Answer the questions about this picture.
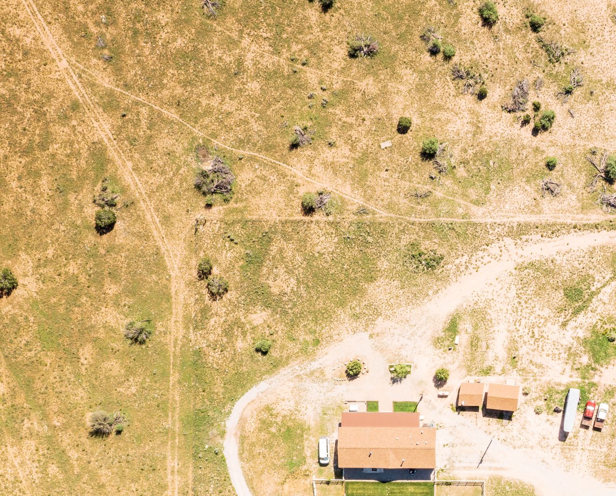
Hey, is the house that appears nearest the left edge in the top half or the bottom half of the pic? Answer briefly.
bottom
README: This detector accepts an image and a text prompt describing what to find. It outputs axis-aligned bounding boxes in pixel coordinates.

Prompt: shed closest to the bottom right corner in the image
[487,383,520,411]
